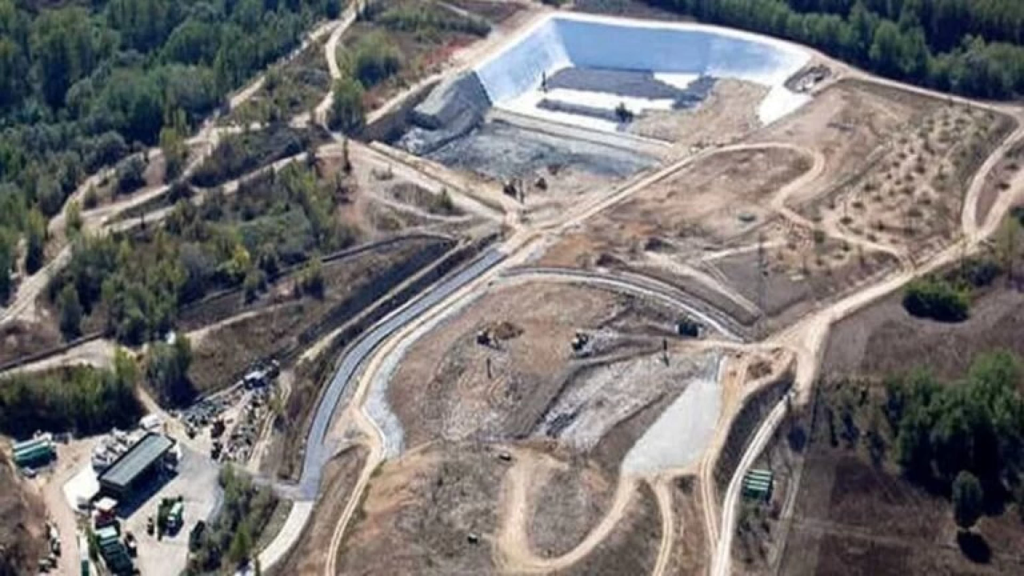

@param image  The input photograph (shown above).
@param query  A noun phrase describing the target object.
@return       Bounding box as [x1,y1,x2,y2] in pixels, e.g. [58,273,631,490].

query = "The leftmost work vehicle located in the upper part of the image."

[530,178,550,190]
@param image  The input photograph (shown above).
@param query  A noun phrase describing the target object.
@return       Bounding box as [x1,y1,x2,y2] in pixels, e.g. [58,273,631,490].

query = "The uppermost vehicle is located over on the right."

[617,103,632,121]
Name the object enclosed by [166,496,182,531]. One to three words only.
vehicle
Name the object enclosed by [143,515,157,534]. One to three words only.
work vehicle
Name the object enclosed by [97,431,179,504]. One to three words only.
shed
